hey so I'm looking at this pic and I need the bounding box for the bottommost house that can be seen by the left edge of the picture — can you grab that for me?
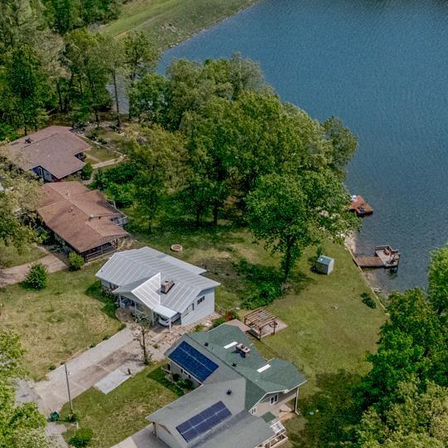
[19,184,138,263]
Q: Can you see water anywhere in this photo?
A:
Yes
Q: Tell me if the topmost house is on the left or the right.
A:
left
